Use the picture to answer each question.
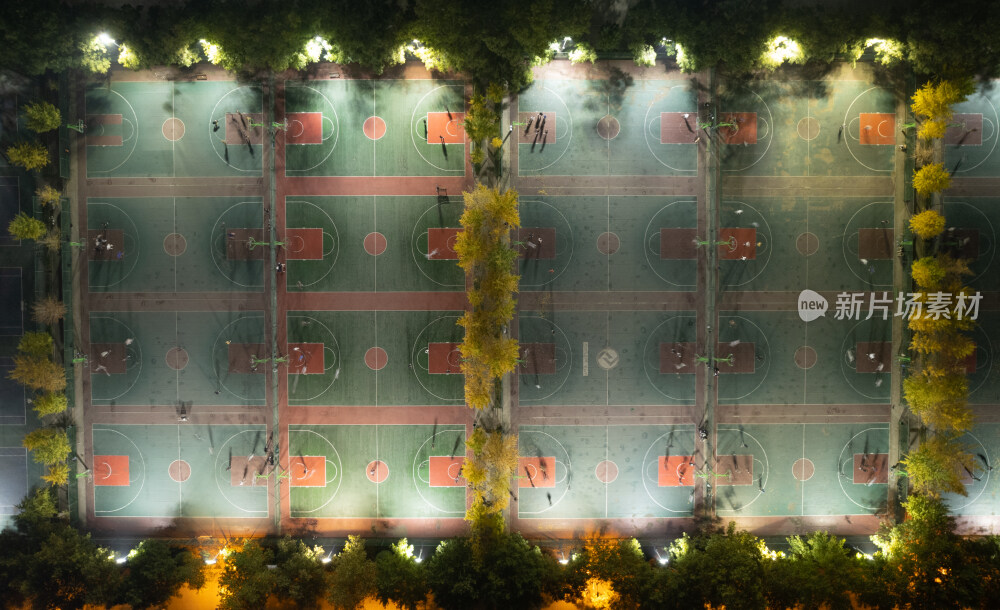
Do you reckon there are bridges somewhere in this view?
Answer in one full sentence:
No, there isn't any bridge down there.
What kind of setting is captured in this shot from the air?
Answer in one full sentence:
It's a sports ground.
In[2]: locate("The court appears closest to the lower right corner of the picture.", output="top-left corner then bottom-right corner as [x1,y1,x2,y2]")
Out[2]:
[938,425,1000,518]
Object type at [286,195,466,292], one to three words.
basketball court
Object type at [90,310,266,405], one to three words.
basketball court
